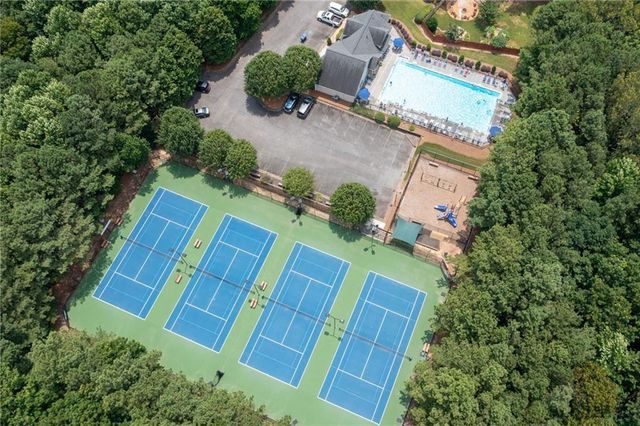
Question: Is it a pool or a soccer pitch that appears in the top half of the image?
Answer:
pool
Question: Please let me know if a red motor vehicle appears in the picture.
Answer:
No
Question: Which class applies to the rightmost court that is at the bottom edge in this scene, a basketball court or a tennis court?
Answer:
tennis court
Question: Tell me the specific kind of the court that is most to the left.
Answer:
tennis court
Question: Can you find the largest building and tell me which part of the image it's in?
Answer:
top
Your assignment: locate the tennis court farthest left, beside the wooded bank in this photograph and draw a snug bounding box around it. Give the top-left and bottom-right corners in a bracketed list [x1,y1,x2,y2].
[92,187,209,320]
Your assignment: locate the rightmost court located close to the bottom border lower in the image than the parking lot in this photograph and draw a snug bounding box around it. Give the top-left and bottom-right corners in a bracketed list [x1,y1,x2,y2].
[318,270,427,425]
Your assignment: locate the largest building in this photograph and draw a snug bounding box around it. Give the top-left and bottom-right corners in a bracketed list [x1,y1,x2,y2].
[314,11,392,104]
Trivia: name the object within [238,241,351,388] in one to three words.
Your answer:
tennis court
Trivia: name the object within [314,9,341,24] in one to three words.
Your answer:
vehicle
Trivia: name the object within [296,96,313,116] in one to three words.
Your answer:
car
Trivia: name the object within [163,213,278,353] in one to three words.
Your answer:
tennis court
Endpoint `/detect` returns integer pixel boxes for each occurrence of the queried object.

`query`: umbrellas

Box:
[391,39,404,52]
[488,126,501,139]
[358,87,371,101]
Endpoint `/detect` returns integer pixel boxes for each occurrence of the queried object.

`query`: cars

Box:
[282,91,298,112]
[188,81,211,91]
[296,96,313,116]
[189,105,210,116]
[327,0,349,16]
